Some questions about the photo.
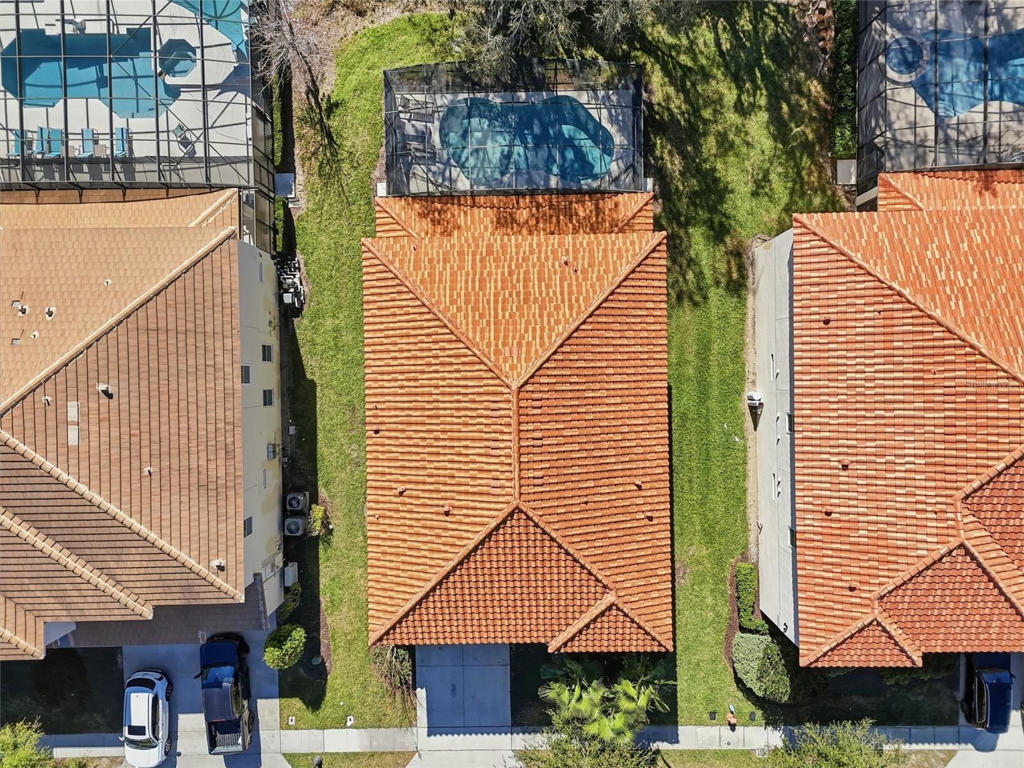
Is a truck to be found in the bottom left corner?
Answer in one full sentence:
Yes, looking in the bottom left corner, one can make out a truck.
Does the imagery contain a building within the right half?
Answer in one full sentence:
Yes, there is a building within the right half.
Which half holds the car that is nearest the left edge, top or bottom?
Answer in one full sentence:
Seen from above, the car that is nearest the left edge lies in the bottom half of the view.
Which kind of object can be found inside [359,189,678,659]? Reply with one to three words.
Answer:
house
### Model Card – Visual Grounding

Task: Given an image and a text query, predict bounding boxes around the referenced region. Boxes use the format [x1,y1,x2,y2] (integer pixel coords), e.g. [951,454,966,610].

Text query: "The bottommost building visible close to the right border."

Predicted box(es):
[754,167,1024,670]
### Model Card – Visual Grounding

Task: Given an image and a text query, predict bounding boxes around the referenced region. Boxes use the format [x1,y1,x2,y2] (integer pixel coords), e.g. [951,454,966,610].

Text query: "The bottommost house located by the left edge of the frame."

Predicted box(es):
[0,187,284,664]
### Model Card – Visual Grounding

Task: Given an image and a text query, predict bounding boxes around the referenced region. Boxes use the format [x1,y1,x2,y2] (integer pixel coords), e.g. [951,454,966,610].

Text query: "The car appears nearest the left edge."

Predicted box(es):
[119,668,171,764]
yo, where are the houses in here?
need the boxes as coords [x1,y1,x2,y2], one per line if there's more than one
[0,187,284,664]
[754,167,1024,670]
[359,189,678,659]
